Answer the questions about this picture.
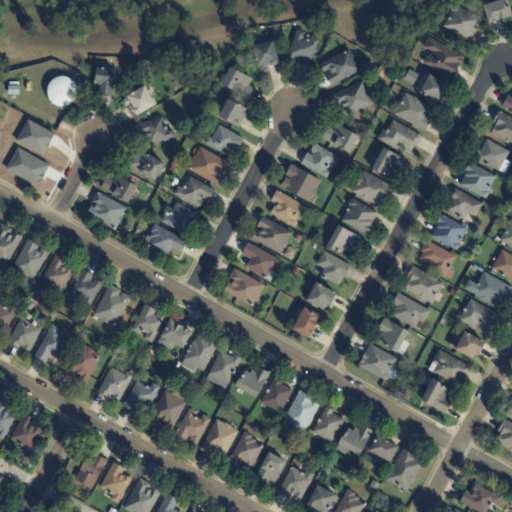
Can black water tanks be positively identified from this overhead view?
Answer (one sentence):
No, no black water tank is visible in the scene.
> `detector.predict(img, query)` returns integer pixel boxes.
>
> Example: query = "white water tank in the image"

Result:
[46,76,76,106]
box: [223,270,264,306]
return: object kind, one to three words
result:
house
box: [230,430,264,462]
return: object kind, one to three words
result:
house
